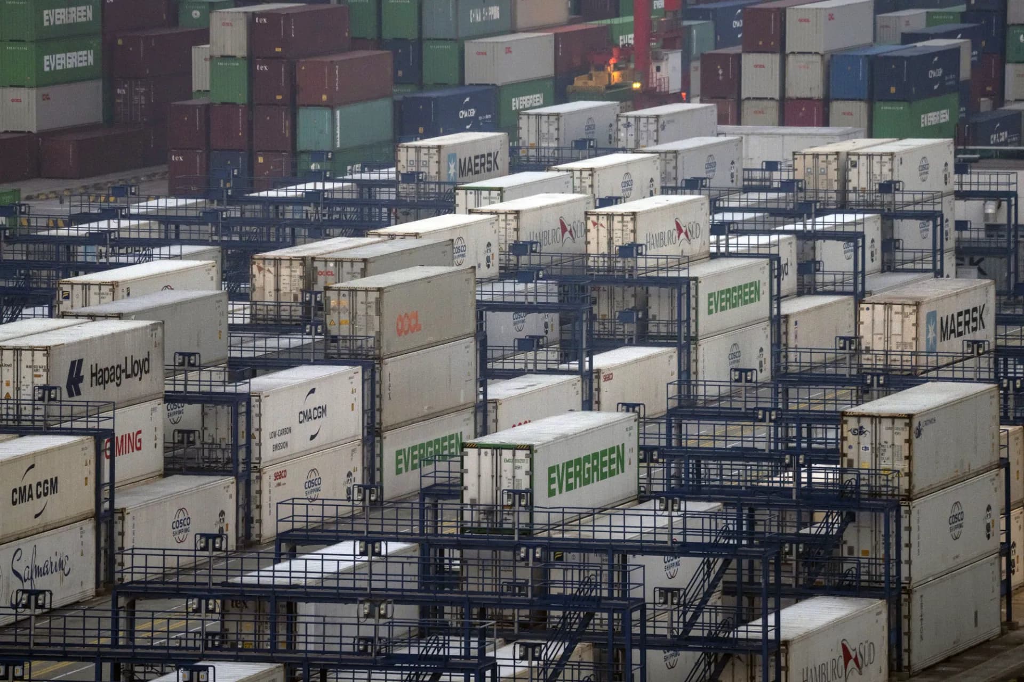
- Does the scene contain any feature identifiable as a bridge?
No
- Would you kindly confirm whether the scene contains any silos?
No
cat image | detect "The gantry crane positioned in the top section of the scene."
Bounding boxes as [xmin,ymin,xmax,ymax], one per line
[570,0,706,110]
